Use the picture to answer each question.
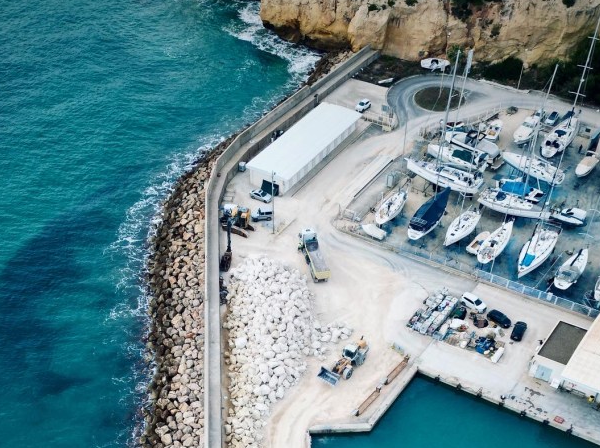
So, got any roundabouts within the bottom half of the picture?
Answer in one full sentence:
No, looking within the bottom half of the picture, there is no roundabout.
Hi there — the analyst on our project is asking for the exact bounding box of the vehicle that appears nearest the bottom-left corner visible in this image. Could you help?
[221,205,258,263]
